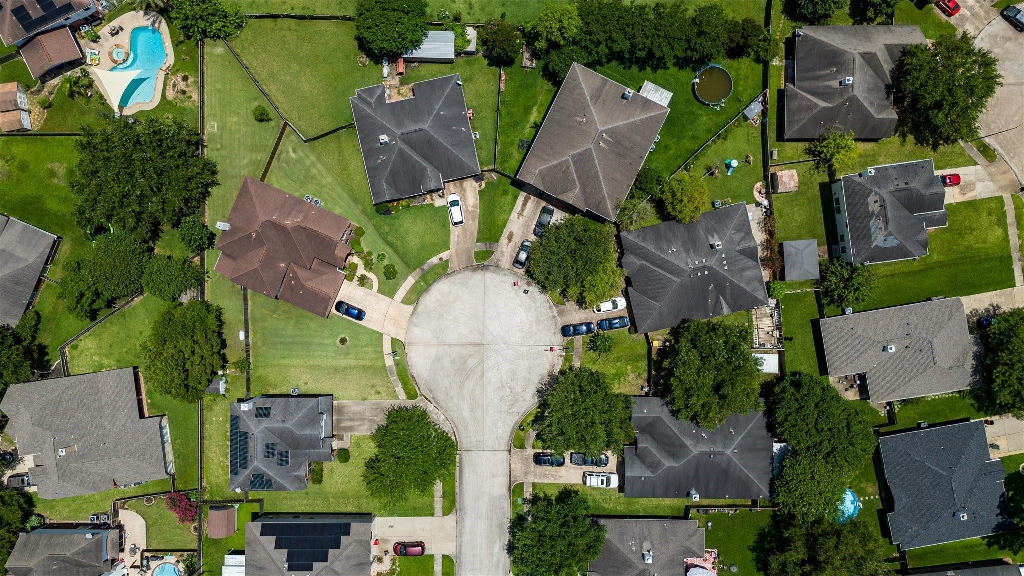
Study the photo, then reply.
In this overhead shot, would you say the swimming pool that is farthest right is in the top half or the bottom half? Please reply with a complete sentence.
Seen from above, the swimming pool that is farthest right lies in the bottom half of the view.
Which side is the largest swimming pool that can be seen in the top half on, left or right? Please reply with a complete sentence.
You can find the largest swimming pool that can be seen in the top half on the left side of the picture.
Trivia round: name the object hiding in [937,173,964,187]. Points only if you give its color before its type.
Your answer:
red car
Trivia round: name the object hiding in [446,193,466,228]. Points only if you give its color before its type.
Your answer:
white car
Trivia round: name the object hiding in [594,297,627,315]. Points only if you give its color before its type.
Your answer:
white car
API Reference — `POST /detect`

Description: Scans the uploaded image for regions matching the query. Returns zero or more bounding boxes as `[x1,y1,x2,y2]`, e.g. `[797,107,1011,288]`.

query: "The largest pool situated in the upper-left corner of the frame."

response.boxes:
[109,24,169,109]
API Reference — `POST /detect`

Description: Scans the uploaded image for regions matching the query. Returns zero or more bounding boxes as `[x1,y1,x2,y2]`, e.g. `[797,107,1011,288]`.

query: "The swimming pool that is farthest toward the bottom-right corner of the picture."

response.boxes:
[841,490,866,521]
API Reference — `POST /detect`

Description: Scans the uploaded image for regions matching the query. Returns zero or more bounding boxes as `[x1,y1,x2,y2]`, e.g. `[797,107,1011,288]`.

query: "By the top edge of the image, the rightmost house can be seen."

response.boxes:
[781,25,931,140]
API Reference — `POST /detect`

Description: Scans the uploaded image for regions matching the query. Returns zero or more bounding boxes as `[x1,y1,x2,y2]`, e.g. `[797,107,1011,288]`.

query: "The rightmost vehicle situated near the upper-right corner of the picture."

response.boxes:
[998,5,1024,35]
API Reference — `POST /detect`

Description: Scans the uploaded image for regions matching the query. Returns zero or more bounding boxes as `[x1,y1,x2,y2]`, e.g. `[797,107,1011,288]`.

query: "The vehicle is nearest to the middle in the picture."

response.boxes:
[512,239,532,271]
